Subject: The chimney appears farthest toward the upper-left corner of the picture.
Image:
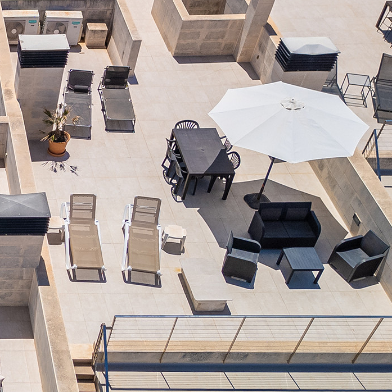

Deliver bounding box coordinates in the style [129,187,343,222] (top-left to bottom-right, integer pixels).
[16,30,70,136]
